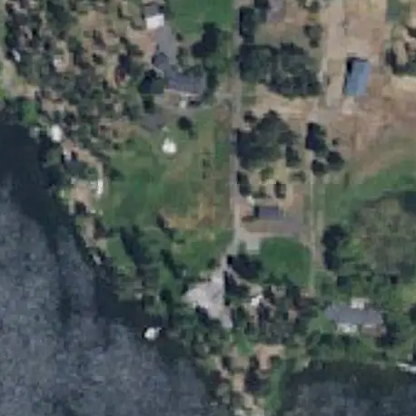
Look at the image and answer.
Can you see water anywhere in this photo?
Yes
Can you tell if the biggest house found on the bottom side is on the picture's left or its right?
right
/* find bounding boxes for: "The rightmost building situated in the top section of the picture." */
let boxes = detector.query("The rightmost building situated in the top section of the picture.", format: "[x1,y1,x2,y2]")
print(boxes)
[343,56,372,97]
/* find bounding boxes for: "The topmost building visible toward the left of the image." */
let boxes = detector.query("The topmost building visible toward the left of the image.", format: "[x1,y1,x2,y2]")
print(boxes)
[145,1,166,31]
